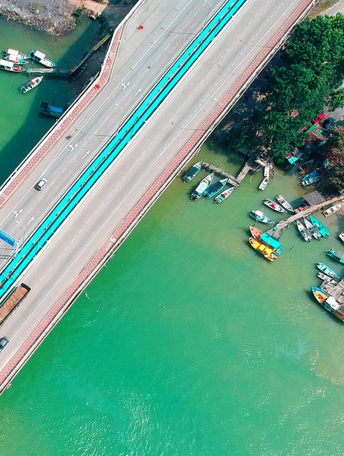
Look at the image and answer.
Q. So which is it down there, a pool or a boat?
boat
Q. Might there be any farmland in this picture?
No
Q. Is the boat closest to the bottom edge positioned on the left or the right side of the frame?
right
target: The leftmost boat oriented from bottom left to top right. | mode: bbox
[18,75,44,94]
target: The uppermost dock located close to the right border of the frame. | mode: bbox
[270,195,344,235]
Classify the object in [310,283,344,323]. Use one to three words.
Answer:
boat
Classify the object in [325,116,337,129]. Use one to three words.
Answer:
vehicle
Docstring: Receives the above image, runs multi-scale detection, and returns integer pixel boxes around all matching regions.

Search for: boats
[3,54,30,64]
[276,194,296,213]
[262,199,288,213]
[205,178,229,200]
[257,176,270,192]
[325,250,344,264]
[2,48,31,59]
[314,262,341,279]
[247,210,276,224]
[296,219,310,243]
[300,169,322,182]
[0,60,26,71]
[183,160,203,184]
[309,214,329,238]
[191,171,216,202]
[303,217,320,242]
[39,103,67,119]
[214,186,236,205]
[18,75,44,94]
[316,273,336,283]
[310,283,344,323]
[249,224,285,257]
[248,237,279,264]
[30,51,57,66]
